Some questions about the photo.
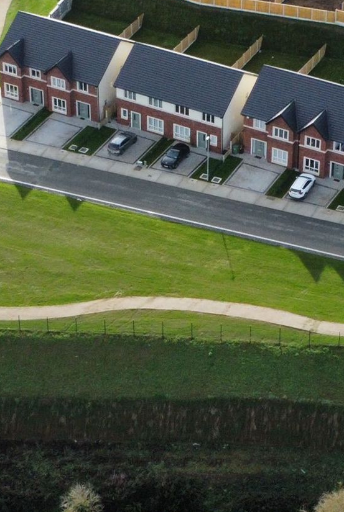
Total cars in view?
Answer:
3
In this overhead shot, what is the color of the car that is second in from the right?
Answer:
black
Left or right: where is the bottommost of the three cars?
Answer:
right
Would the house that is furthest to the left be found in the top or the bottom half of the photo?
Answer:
top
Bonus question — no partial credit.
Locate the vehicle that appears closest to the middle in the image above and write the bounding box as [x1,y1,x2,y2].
[161,143,190,168]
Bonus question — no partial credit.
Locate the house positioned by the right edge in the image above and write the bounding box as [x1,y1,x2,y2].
[240,66,344,184]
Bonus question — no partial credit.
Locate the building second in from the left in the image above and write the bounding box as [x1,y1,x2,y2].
[112,40,260,155]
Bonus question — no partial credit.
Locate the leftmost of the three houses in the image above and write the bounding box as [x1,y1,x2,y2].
[0,10,135,121]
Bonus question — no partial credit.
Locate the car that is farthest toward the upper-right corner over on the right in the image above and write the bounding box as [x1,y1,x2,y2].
[290,172,320,198]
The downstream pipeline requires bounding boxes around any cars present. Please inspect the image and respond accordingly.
[107,128,138,155]
[161,143,190,168]
[290,172,320,198]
